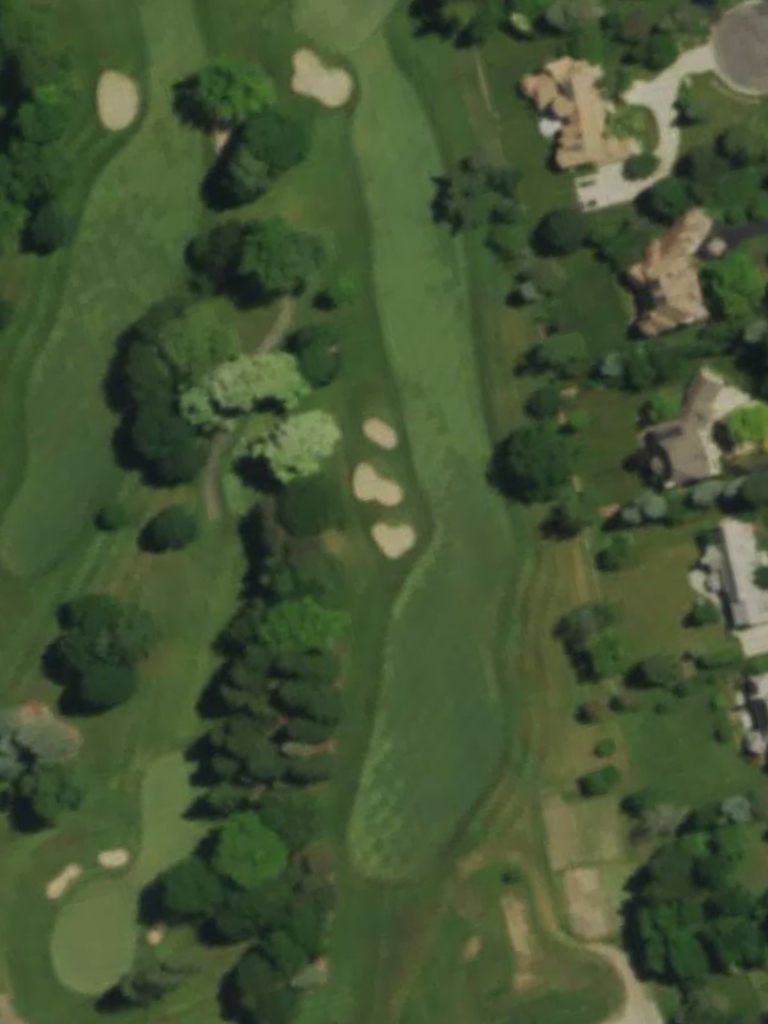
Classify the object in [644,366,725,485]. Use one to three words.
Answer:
house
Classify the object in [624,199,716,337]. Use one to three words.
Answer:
house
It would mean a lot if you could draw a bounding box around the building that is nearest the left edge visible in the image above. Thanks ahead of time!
[520,54,642,170]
